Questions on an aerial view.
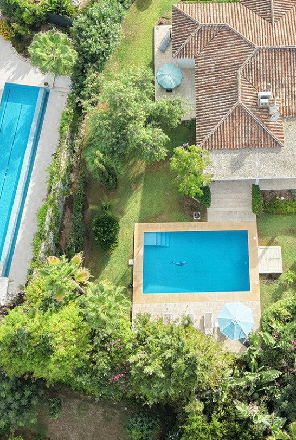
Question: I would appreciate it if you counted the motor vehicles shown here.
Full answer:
Not a single motor vehicle can be seen.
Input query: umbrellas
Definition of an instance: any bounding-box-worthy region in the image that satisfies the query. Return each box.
[156,65,183,88]
[218,303,254,339]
